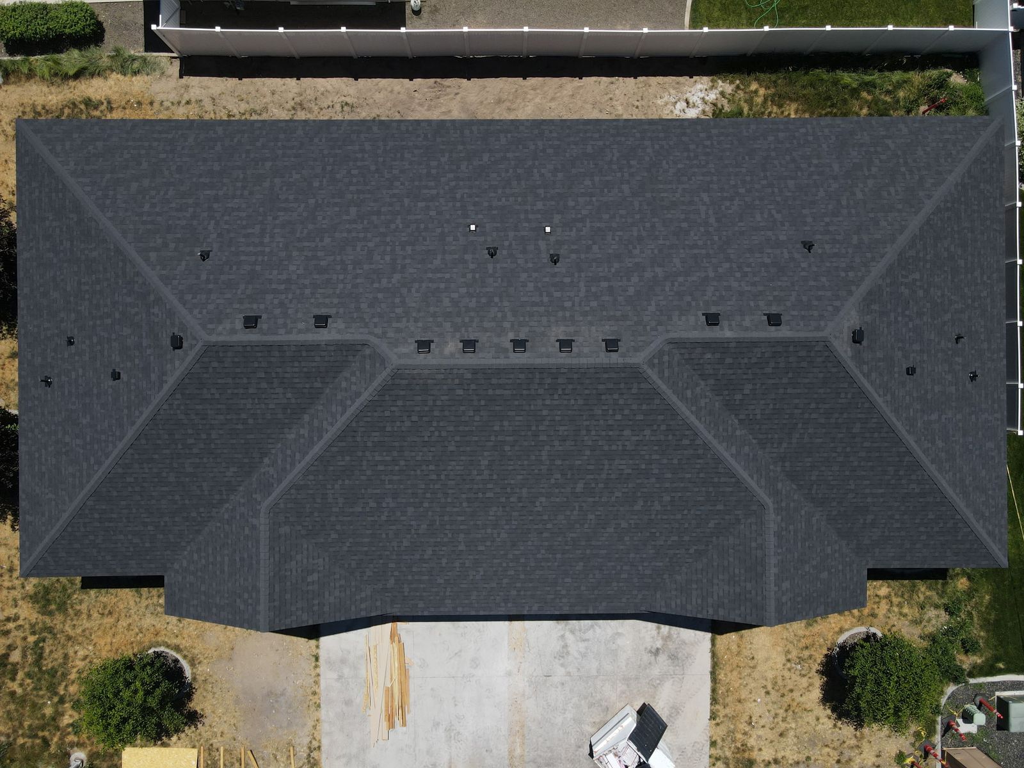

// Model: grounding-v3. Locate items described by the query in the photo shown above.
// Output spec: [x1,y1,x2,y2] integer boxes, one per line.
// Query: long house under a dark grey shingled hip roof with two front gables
[13,117,1010,633]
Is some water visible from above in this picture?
No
